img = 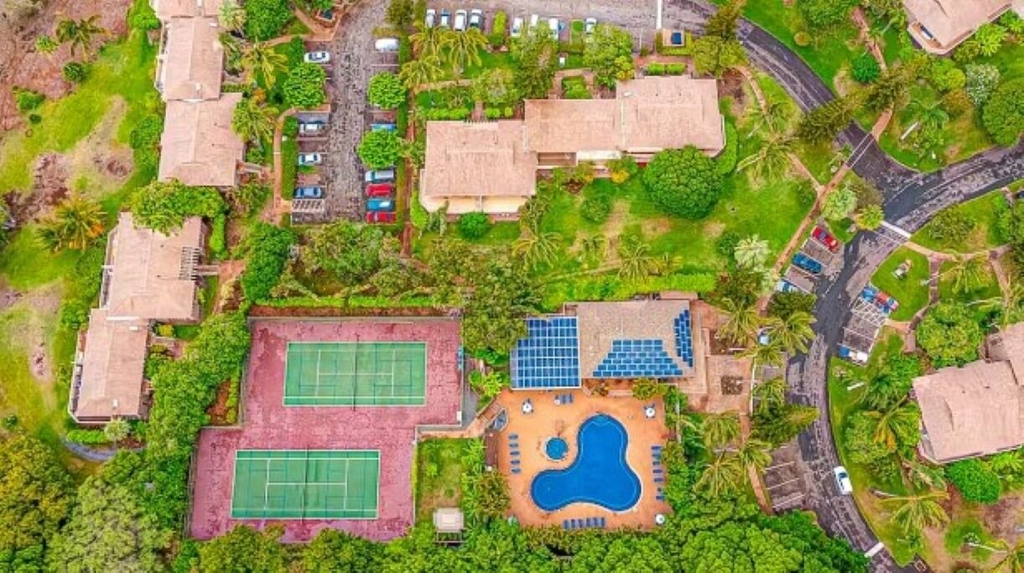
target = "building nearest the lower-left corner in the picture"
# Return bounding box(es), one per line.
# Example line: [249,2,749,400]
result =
[68,309,157,426]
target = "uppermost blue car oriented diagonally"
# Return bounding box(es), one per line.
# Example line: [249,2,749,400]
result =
[793,252,822,275]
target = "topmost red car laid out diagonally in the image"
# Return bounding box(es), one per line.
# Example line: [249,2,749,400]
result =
[813,226,839,251]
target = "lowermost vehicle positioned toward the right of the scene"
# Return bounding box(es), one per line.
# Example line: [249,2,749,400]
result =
[833,466,851,494]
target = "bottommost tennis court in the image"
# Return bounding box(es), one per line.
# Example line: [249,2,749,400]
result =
[231,446,380,523]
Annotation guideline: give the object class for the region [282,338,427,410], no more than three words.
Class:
tennis court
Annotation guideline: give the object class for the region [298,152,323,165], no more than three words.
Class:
vehicle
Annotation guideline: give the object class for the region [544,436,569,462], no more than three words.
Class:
swimming pool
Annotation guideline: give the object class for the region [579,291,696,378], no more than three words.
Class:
building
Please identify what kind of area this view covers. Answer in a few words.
residential area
